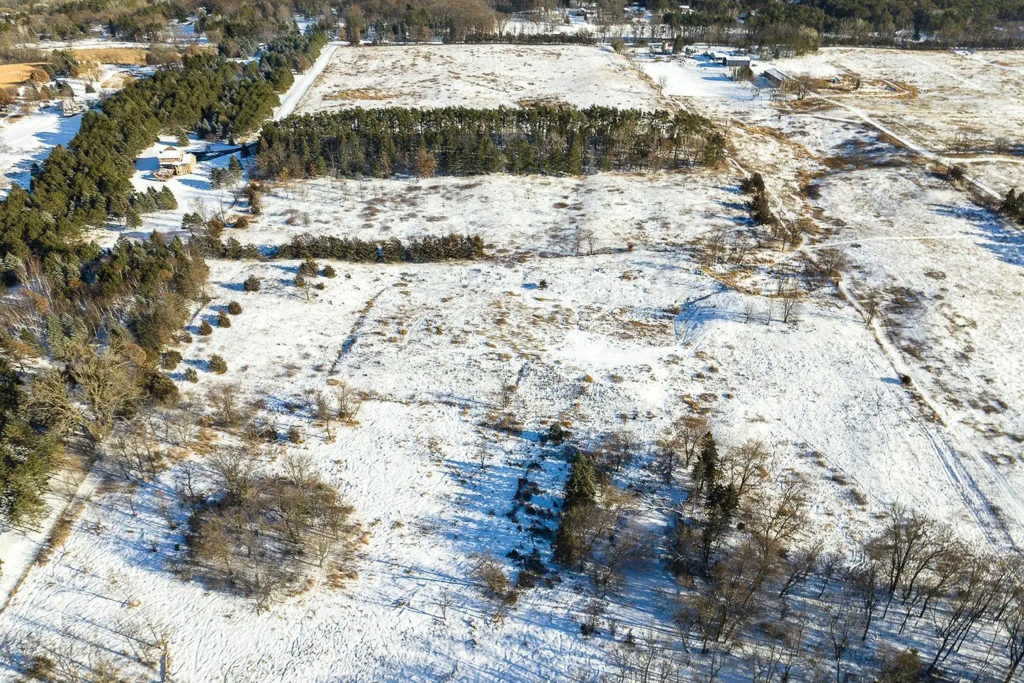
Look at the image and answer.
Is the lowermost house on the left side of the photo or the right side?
left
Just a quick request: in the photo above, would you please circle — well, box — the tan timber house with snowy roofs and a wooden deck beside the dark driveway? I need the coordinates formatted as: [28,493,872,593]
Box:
[150,149,197,178]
